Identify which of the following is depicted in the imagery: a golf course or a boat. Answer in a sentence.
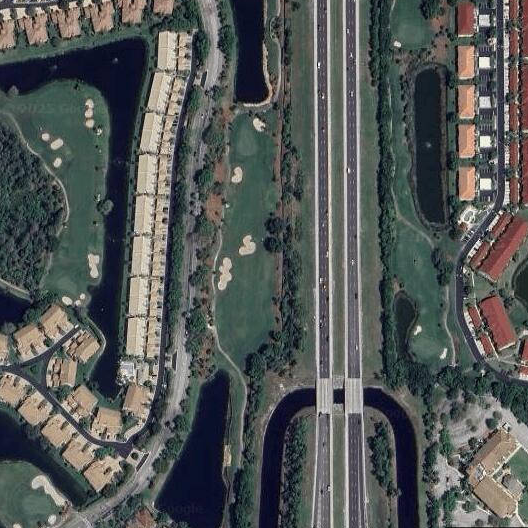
Of the two, only a golf course appears.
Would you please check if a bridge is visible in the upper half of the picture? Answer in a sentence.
No, looking in the upper half of the picture, there is no bridge.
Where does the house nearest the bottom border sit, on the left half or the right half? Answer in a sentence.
The house nearest the bottom border sits on the left side.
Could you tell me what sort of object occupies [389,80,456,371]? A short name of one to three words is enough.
golf course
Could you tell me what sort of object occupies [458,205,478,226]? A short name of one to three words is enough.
swimming pool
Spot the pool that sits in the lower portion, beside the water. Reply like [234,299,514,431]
[121,359,135,379]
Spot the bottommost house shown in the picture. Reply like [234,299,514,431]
[127,507,157,528]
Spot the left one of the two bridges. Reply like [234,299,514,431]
[316,377,333,413]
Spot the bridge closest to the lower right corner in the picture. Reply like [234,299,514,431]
[345,377,363,413]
